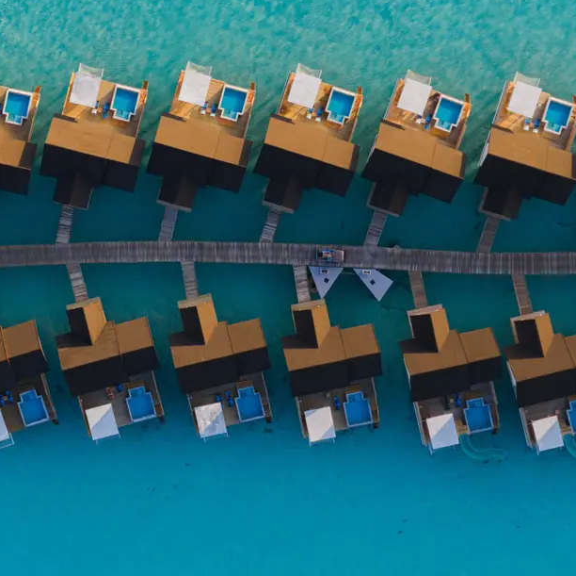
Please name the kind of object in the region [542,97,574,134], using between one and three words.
swimming pool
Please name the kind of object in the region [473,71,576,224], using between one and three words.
house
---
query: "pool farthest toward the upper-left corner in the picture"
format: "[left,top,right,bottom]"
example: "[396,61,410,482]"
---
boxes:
[3,90,33,127]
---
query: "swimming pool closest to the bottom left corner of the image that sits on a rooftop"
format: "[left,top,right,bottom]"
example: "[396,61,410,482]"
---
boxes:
[18,393,49,429]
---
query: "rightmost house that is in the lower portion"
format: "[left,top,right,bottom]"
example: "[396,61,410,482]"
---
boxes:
[504,309,576,454]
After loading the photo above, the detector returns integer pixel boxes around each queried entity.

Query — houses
[0,320,61,452]
[0,86,44,199]
[361,67,473,221]
[473,71,576,224]
[56,297,167,441]
[399,305,503,451]
[254,61,365,216]
[280,300,383,444]
[504,309,576,454]
[149,61,258,214]
[41,61,151,214]
[168,296,273,440]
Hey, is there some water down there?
Yes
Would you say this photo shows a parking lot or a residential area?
residential area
